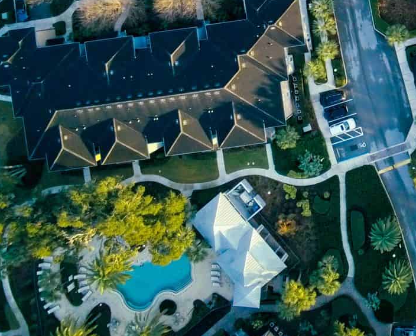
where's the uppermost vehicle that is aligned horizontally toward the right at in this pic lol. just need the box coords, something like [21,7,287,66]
[320,90,347,106]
